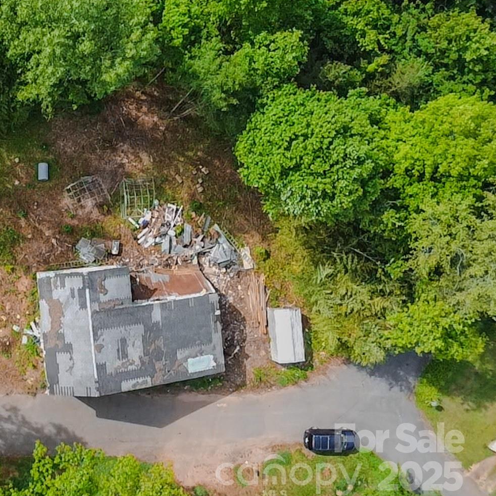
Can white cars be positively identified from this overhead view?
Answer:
No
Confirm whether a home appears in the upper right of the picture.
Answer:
No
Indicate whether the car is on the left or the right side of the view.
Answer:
right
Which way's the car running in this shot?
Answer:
horizontally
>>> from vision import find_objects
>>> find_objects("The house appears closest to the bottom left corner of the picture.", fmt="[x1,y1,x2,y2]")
[34,263,225,397]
